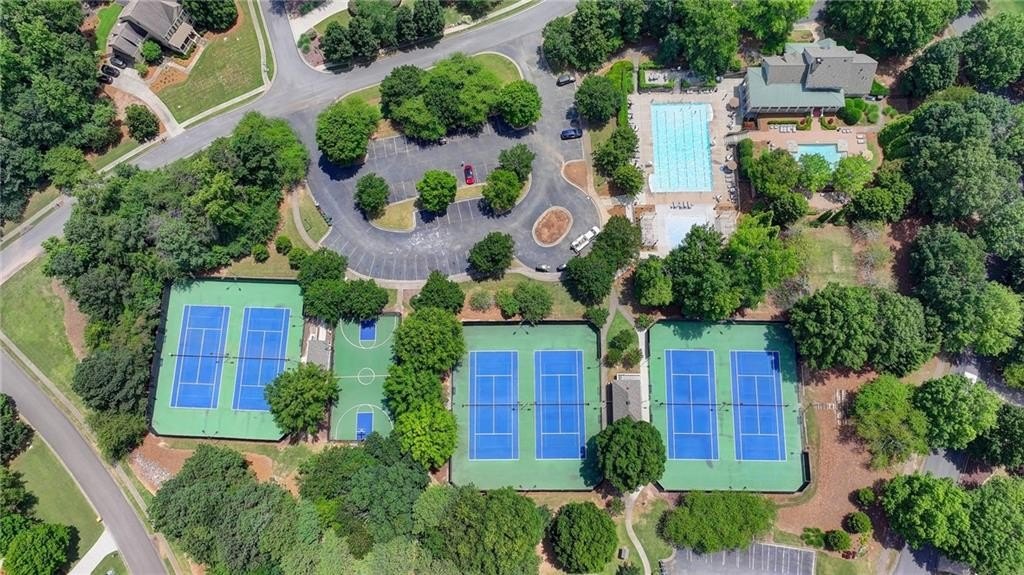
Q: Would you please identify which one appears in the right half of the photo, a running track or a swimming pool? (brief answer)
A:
swimming pool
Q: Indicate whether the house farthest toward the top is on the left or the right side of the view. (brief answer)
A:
left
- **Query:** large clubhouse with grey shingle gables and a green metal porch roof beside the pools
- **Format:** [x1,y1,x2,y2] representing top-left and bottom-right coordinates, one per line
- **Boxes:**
[743,39,878,119]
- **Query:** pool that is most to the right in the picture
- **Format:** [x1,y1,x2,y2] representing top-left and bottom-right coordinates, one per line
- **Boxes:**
[786,143,849,181]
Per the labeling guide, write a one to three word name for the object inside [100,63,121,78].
car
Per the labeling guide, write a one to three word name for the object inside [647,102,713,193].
swimming pool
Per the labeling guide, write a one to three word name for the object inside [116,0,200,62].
house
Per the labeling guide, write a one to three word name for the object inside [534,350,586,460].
tennis court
